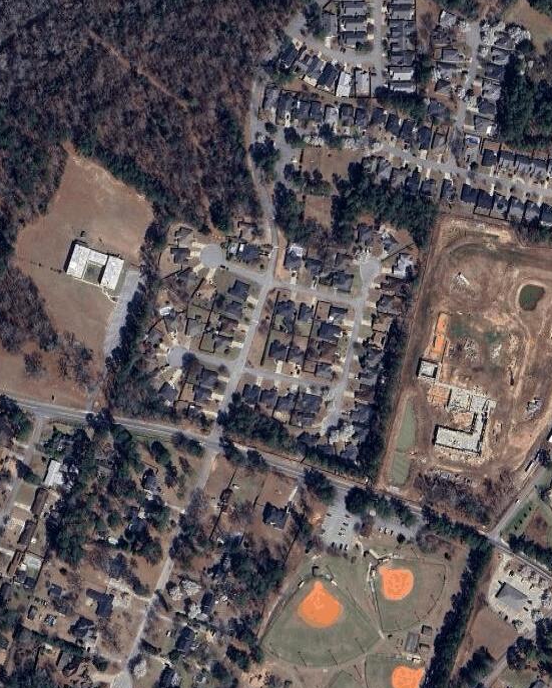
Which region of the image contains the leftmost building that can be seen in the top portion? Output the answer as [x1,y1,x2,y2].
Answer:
[67,244,124,290]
